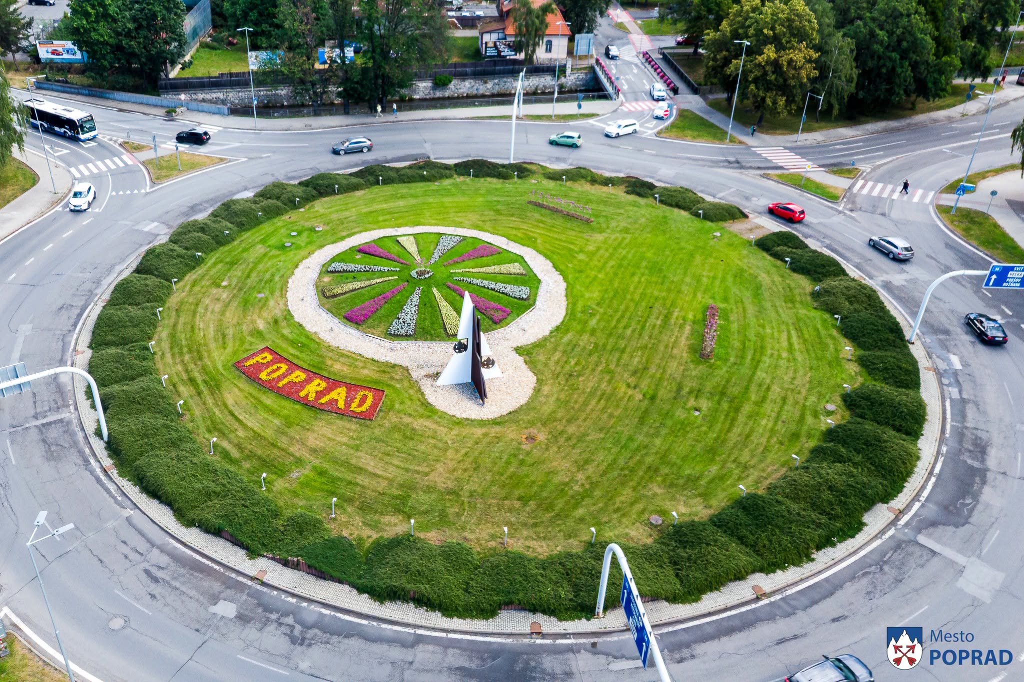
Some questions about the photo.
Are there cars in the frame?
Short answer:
Yes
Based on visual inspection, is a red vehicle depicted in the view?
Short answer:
Yes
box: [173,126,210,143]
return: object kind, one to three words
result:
car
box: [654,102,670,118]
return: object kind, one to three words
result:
car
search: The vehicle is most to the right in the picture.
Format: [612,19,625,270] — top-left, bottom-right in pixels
[961,312,1015,344]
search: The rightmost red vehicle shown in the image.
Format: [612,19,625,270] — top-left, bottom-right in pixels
[768,201,809,222]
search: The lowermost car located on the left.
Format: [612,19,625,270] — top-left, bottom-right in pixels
[66,180,95,208]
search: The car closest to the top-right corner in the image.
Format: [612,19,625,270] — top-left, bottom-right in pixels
[870,235,916,260]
